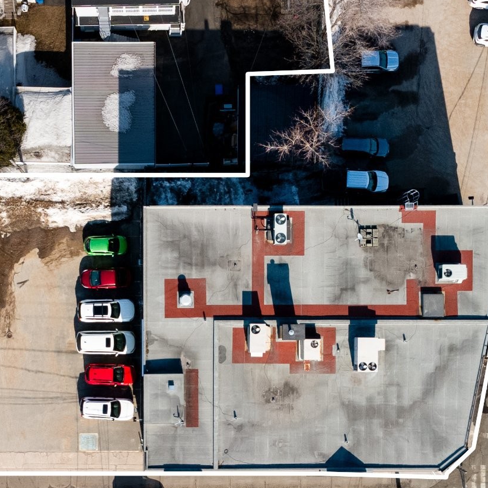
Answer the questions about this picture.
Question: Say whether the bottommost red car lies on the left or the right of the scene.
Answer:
left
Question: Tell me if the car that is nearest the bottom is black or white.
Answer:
white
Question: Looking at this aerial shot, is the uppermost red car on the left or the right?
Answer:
left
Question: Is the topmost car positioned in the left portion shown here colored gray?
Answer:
No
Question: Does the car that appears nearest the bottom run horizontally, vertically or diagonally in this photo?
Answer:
horizontally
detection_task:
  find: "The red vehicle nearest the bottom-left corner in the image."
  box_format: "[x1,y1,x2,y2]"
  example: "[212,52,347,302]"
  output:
[84,362,133,389]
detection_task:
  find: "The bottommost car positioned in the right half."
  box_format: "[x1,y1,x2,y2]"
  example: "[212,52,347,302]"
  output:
[338,168,388,195]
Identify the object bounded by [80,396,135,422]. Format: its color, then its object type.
white car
